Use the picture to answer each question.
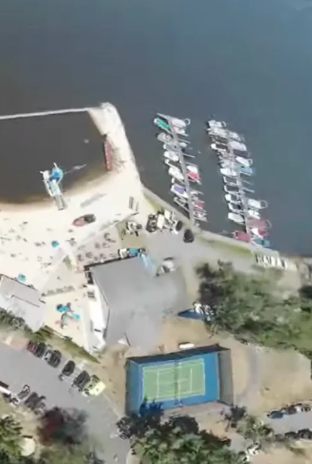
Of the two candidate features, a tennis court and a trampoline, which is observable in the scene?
tennis court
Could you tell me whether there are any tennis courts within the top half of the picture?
No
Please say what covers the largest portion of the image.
water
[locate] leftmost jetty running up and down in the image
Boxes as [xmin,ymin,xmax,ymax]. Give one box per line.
[156,112,207,228]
